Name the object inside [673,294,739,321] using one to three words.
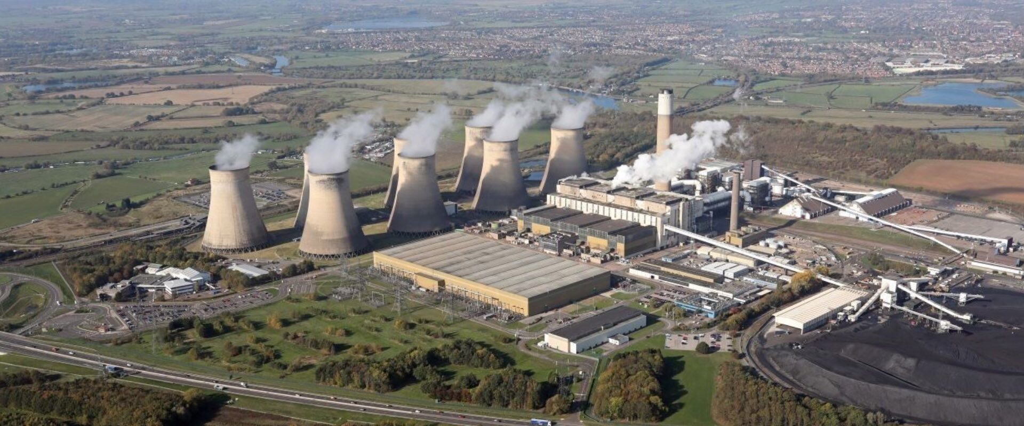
building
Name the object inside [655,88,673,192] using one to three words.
chimney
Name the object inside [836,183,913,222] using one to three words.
barn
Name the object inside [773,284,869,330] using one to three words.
shed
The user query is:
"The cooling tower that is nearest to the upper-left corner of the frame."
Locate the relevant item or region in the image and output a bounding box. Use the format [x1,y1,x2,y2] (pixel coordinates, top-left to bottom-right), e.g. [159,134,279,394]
[201,162,275,257]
